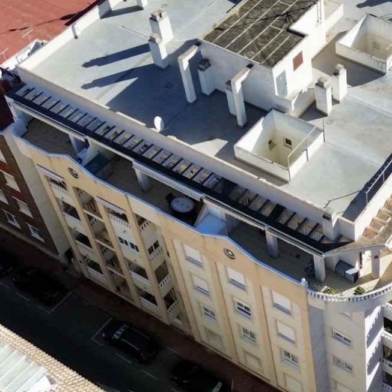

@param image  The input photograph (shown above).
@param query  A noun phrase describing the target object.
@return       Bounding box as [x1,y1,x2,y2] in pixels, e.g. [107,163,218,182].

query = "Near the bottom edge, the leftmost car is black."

[99,318,169,373]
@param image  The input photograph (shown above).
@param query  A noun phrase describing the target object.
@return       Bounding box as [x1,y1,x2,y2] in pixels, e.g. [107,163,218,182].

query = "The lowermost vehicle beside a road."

[166,358,233,392]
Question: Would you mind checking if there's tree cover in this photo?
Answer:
No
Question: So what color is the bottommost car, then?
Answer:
black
